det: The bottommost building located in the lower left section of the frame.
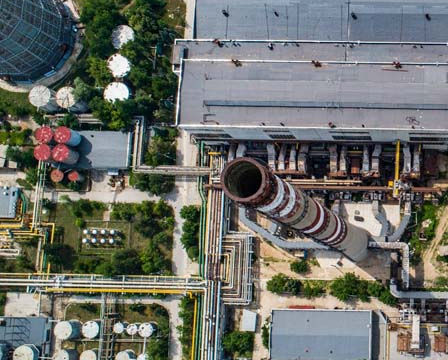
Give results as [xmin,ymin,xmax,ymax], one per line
[0,315,56,346]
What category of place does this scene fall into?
industrial area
